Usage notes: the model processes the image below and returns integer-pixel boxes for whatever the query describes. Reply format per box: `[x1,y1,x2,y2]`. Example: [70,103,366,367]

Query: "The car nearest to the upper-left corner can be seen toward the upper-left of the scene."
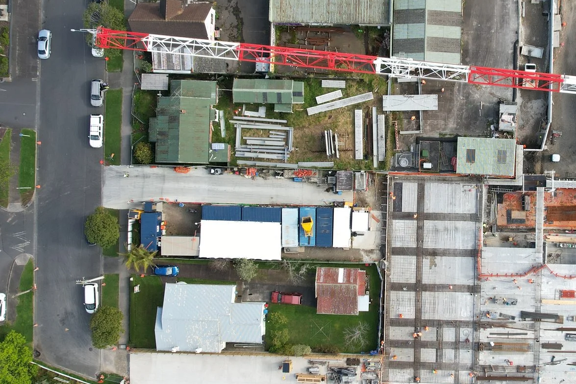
[36,30,51,60]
